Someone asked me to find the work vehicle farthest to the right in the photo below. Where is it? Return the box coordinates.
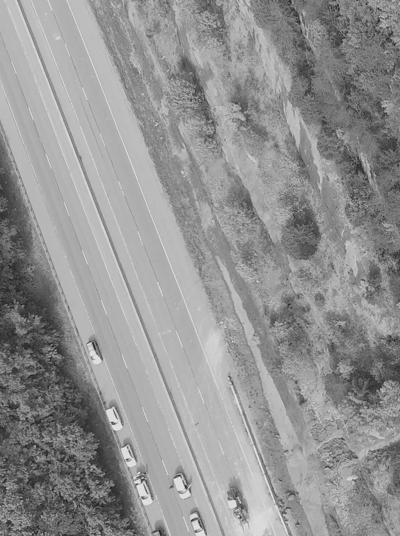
[228,491,250,529]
